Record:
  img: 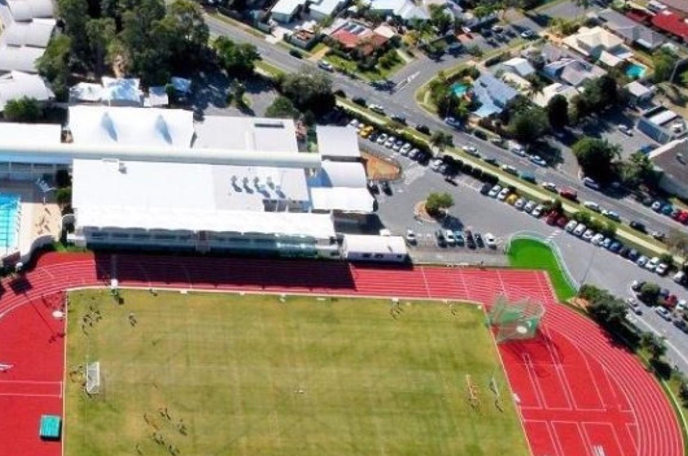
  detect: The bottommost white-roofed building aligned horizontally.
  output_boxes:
[341,236,407,267]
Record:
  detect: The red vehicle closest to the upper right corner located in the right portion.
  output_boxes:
[559,187,578,200]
